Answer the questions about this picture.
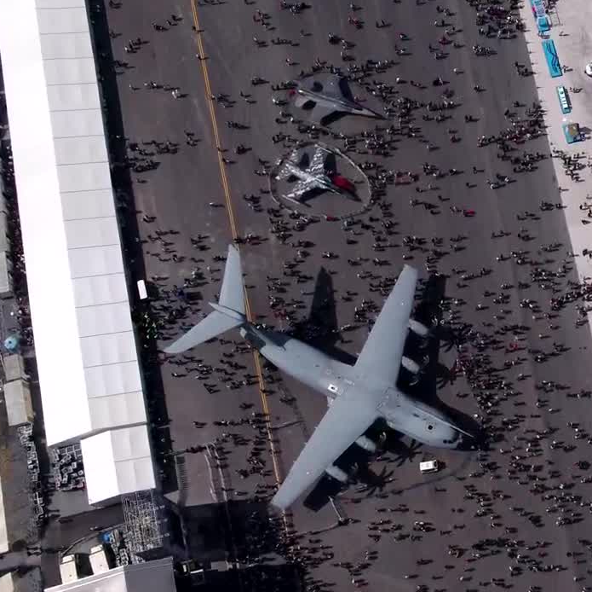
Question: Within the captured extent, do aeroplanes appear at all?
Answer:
Yes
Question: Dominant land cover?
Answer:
paved ground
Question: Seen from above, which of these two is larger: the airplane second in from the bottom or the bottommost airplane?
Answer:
the bottommost airplane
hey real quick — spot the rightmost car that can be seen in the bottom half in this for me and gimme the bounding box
[420,459,440,474]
